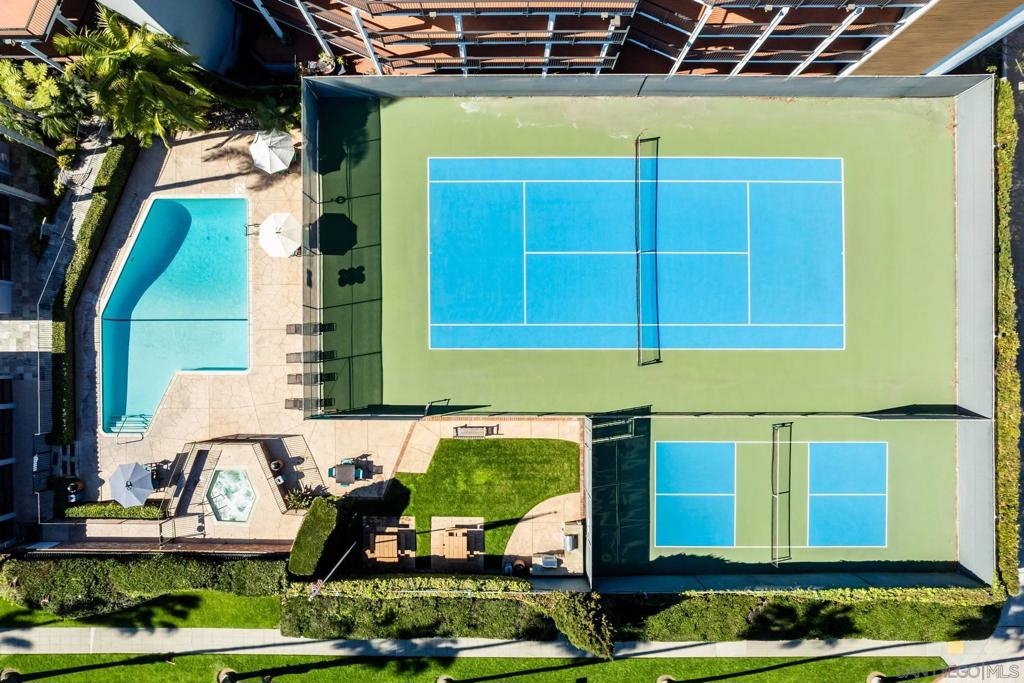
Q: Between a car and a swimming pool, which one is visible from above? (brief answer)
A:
swimming pool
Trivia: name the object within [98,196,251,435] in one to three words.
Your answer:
swimming pool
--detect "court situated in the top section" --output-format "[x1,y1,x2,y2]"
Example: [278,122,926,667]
[319,96,957,414]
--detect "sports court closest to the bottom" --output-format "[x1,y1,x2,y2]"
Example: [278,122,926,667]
[586,415,958,576]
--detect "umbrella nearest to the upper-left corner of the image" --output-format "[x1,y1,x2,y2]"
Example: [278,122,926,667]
[251,129,295,173]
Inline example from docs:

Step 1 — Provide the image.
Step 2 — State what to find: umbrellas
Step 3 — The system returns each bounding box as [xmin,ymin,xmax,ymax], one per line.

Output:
[260,214,302,256]
[110,461,157,507]
[251,129,295,173]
